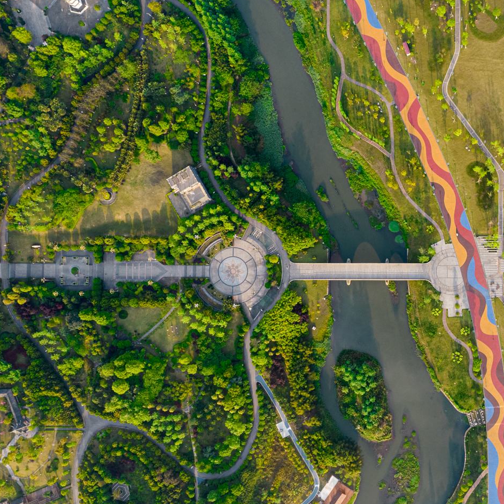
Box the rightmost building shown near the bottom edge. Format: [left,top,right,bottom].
[319,474,356,504]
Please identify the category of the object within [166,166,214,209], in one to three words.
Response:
house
